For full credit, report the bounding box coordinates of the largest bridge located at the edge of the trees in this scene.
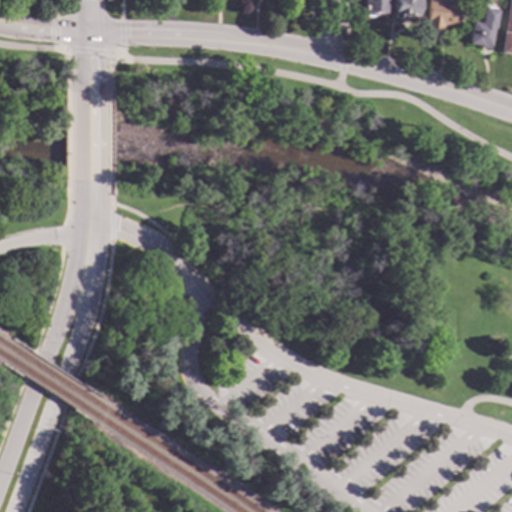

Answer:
[67,102,118,194]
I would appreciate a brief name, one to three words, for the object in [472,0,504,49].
house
